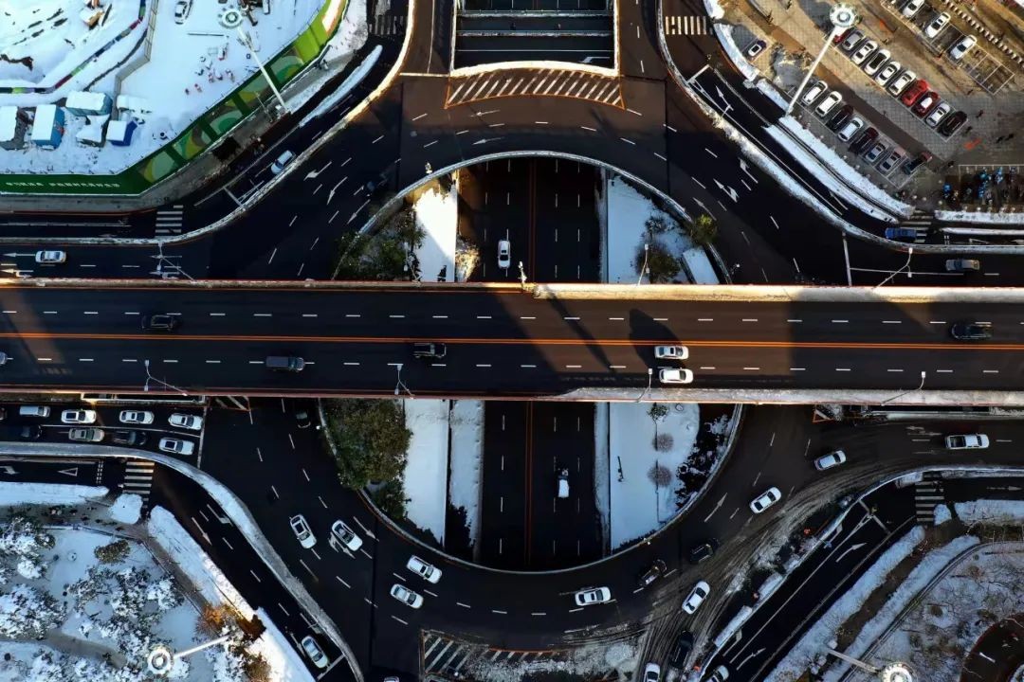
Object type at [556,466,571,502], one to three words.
vehicle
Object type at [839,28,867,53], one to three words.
car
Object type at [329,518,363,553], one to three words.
car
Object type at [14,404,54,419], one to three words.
vehicle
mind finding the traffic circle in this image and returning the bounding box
[236,94,830,657]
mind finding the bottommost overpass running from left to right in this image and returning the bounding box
[0,279,1024,409]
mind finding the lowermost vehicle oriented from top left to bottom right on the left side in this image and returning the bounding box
[300,634,332,670]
